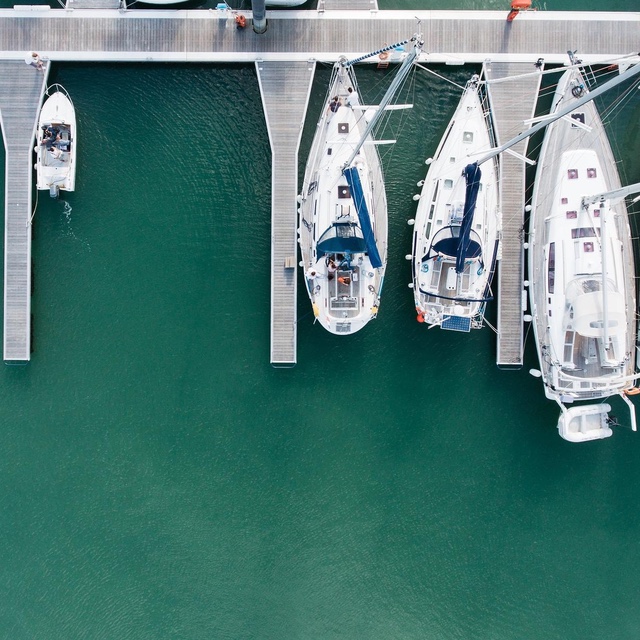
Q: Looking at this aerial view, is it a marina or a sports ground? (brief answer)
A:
marina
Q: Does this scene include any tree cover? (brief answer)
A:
No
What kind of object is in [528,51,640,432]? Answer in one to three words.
boat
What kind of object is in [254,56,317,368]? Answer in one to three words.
pier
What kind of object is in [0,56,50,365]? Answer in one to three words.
pier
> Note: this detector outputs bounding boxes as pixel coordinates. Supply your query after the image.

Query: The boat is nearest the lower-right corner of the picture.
[558,404,618,442]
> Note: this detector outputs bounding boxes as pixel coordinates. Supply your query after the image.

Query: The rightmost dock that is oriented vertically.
[483,56,546,370]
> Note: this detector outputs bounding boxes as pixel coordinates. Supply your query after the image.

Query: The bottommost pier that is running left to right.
[0,10,640,63]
